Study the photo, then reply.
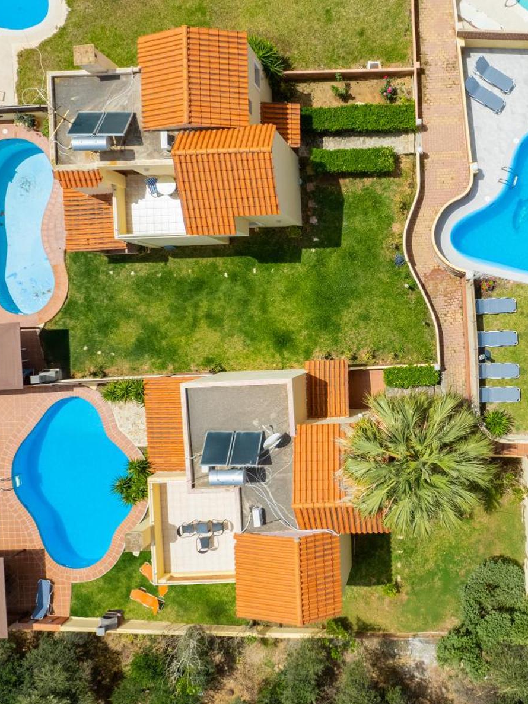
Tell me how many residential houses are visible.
2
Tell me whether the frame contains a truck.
No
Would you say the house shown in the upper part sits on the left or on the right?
left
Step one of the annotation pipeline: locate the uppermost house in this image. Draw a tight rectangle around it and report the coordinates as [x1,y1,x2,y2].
[49,23,305,255]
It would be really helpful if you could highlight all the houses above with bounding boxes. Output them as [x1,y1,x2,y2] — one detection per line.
[49,23,305,255]
[117,359,390,630]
